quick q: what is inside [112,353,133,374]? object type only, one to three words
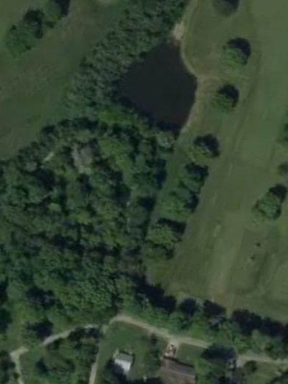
building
